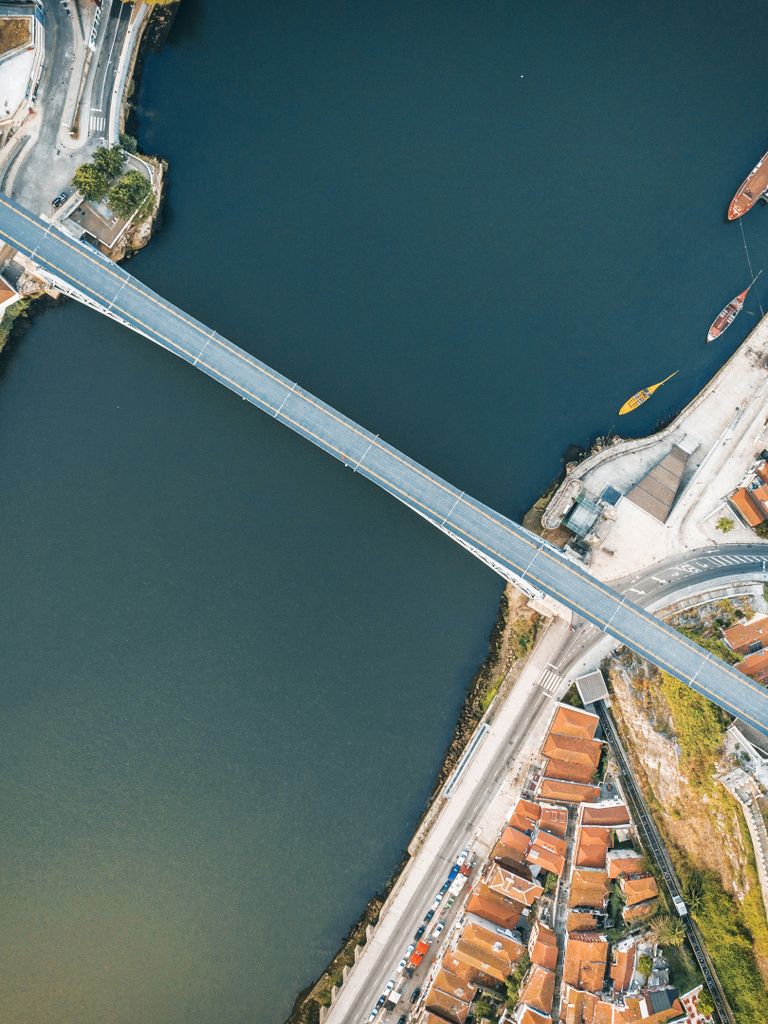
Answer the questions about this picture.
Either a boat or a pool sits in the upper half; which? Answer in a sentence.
You can see a boat in the upper half.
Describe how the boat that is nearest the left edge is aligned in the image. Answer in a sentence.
From this overhead view, the boat that is nearest the left edge appears to run on a diagonal.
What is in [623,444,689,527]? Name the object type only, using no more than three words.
building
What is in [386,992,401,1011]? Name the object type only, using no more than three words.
vehicle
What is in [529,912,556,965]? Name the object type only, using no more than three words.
house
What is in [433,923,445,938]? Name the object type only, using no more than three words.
vehicle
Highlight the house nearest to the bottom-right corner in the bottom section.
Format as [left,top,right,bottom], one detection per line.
[675,979,708,1024]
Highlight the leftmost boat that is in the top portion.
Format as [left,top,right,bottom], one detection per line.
[619,370,679,415]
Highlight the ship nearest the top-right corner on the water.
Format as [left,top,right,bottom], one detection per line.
[725,144,768,222]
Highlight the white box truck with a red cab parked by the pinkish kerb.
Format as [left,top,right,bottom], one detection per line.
[449,870,470,900]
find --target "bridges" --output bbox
[0,192,768,737]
